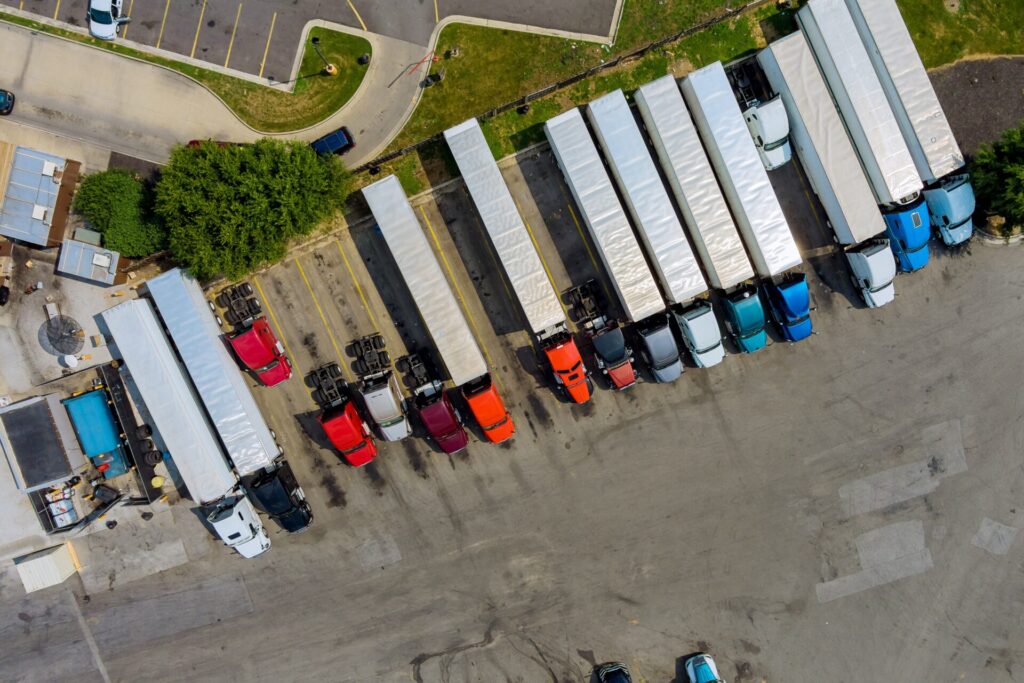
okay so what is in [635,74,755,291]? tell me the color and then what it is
white trailer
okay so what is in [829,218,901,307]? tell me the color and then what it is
white truck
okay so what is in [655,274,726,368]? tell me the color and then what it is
white truck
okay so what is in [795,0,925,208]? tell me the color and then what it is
white trailer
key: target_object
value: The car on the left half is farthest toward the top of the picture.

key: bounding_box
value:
[92,0,134,43]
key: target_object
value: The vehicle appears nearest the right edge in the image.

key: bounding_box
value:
[923,174,979,247]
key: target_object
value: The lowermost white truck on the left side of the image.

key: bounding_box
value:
[211,477,273,557]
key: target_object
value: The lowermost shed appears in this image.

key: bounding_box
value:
[16,541,81,593]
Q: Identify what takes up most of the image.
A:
paved ground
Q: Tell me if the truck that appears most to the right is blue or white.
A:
blue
